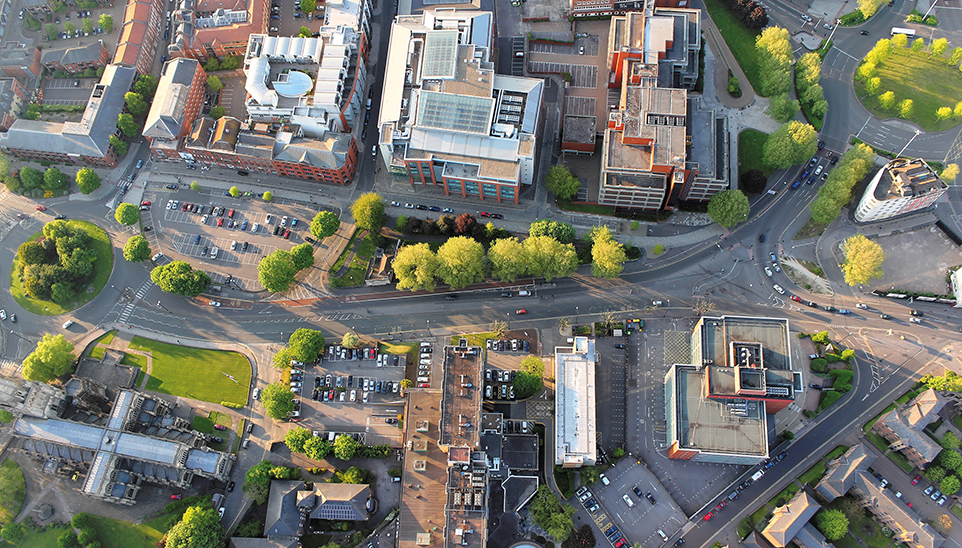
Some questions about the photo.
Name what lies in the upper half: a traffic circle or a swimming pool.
traffic circle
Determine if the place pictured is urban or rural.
urban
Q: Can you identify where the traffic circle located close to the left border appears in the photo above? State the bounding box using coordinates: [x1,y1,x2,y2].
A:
[9,219,114,316]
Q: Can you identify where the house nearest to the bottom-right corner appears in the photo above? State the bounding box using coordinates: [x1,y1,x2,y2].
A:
[847,468,949,548]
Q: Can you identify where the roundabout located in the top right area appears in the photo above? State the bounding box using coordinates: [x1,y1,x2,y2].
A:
[853,47,962,132]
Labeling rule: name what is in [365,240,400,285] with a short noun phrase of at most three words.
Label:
house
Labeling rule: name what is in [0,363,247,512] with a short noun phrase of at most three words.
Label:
church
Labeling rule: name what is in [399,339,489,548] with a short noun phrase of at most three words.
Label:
building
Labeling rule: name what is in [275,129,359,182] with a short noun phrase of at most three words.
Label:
building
